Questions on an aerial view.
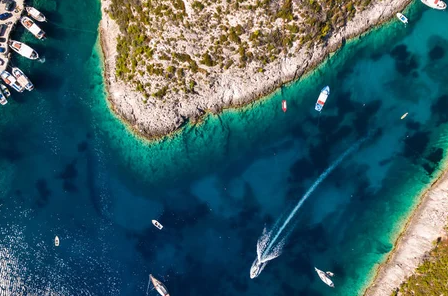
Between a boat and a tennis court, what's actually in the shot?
boat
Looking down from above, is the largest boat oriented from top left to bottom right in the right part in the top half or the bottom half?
bottom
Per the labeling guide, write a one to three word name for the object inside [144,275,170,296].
boat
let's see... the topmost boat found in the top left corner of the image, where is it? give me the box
[23,4,46,21]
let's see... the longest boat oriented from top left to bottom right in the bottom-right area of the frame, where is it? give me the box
[315,268,336,290]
